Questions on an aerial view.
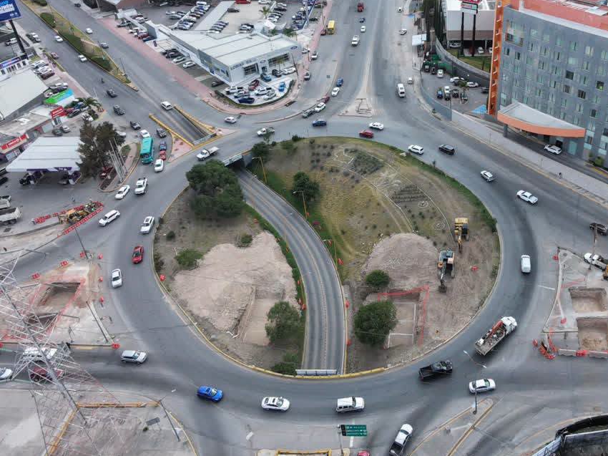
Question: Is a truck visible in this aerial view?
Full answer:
Yes, a truck can be made out from above.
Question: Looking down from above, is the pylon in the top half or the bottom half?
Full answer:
The pylon sits in the bottom half of the picture.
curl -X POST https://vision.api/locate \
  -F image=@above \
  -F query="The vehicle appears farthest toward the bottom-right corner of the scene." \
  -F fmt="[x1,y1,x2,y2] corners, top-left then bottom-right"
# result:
[468,379,496,393]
